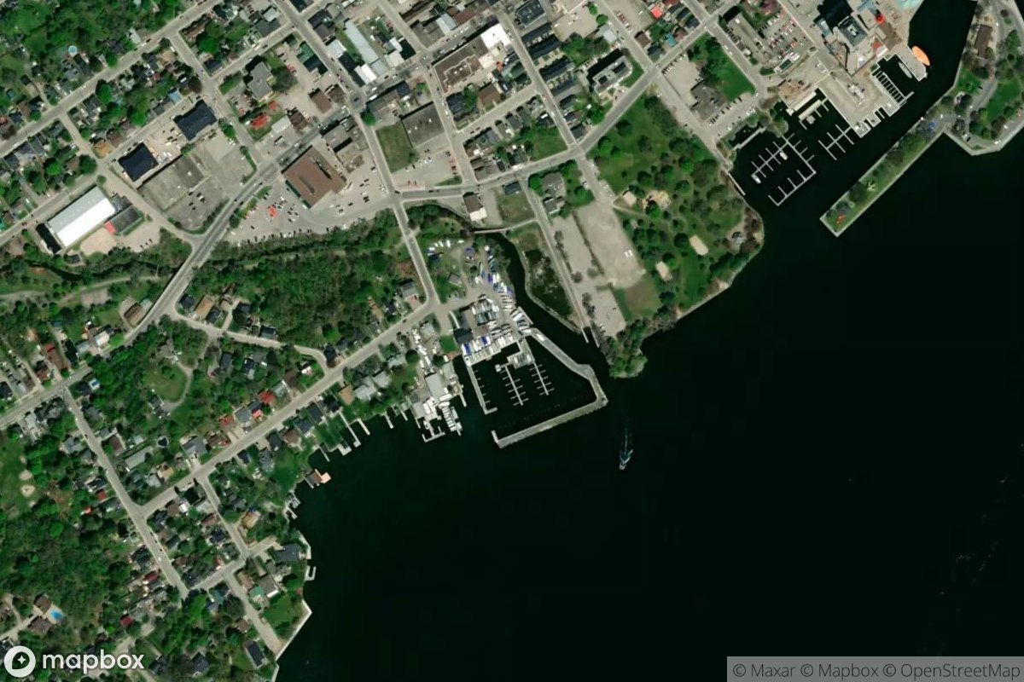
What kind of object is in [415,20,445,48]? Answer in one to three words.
building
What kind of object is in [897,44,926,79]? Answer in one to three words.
pier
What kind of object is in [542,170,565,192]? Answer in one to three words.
house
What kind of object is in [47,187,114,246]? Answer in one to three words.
building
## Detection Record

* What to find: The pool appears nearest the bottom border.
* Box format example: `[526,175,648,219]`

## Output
[47,606,66,624]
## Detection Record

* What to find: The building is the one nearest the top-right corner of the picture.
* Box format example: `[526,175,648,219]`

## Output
[976,24,991,56]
